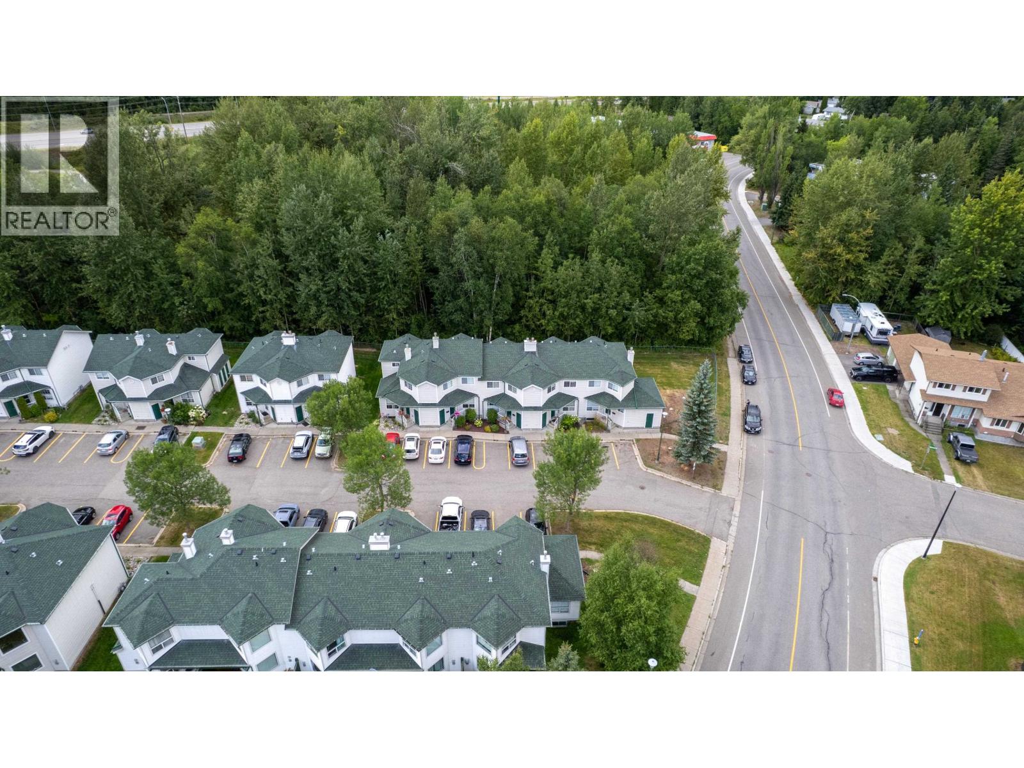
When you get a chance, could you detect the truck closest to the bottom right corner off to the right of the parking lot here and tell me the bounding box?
[938,432,989,468]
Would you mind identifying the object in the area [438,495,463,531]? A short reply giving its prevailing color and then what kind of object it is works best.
white truck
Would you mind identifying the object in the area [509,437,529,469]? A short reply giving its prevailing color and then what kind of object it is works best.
gray vehicle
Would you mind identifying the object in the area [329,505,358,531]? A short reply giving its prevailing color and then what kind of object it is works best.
white car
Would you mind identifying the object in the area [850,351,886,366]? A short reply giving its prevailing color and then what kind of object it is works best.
gray car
